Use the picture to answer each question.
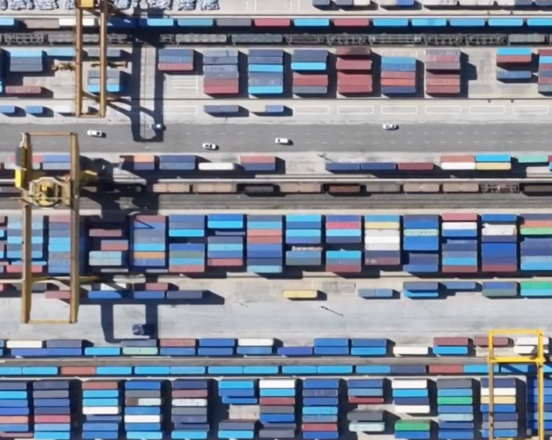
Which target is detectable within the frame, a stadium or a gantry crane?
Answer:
gantry crane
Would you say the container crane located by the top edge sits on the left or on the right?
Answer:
left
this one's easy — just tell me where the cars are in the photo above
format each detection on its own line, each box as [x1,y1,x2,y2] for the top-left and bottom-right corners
[275,138,288,143]
[384,124,397,130]
[202,143,215,149]
[88,131,101,136]
[149,124,163,130]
